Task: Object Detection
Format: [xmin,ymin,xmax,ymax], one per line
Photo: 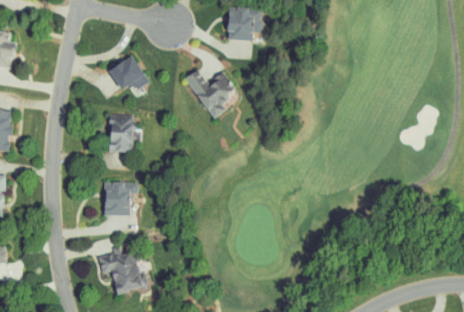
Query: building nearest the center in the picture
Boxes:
[186,70,240,118]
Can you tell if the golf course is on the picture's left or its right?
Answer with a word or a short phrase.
right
